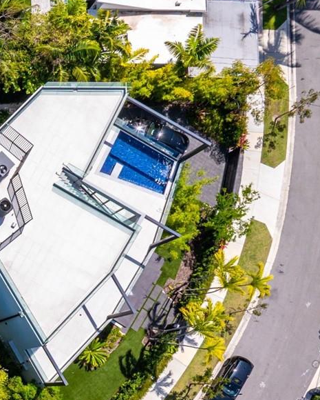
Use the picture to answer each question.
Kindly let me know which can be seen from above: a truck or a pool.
pool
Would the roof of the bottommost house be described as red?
No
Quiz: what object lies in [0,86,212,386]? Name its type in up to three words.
house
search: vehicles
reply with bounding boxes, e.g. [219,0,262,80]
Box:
[129,113,194,164]
[200,350,254,400]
